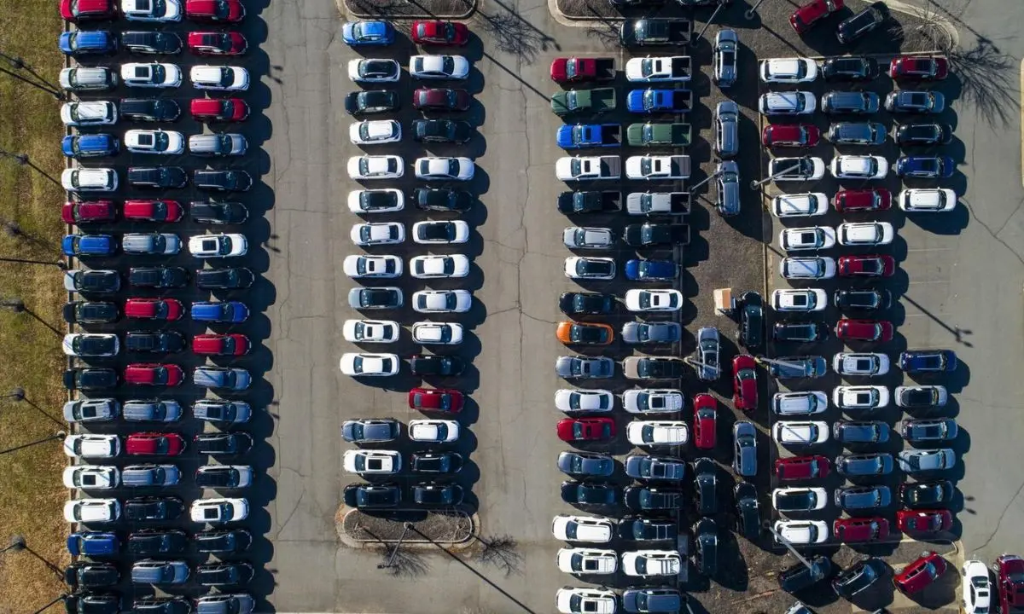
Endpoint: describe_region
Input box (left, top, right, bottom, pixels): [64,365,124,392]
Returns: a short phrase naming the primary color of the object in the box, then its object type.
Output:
black car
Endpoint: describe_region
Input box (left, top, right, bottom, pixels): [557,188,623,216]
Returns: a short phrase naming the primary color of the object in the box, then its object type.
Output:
black truck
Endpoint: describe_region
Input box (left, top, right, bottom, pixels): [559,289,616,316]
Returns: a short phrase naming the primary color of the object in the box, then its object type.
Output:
black car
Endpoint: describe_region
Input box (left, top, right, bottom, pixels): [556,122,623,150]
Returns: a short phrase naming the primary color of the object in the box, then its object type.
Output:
blue truck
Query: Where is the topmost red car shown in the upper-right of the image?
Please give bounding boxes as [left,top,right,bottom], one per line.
[786,0,845,33]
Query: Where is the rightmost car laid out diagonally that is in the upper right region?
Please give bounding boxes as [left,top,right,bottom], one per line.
[832,1,889,46]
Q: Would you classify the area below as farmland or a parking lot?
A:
parking lot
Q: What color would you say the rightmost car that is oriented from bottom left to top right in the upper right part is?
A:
black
